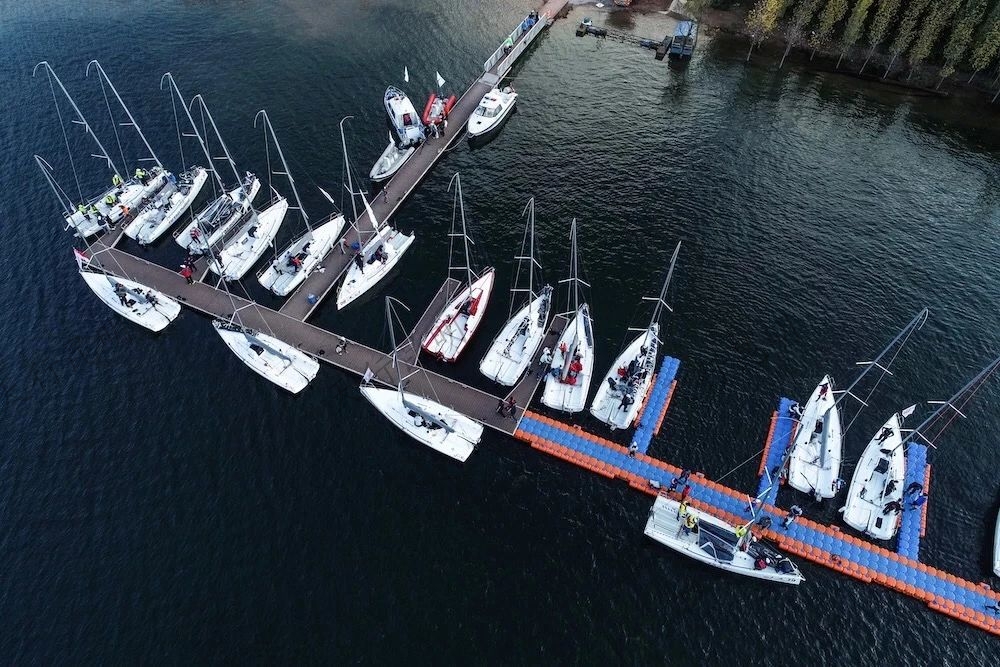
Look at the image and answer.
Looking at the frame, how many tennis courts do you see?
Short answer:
0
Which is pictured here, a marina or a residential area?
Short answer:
marina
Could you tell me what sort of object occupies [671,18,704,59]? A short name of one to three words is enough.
boat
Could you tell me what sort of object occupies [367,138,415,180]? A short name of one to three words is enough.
boat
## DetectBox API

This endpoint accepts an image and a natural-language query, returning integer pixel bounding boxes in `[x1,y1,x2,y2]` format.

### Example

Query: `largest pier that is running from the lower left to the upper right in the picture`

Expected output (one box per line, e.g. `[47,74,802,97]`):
[278,76,501,321]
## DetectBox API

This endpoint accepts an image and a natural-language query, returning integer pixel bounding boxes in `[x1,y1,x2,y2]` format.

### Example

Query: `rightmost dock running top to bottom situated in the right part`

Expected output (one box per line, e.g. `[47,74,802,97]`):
[895,448,930,562]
